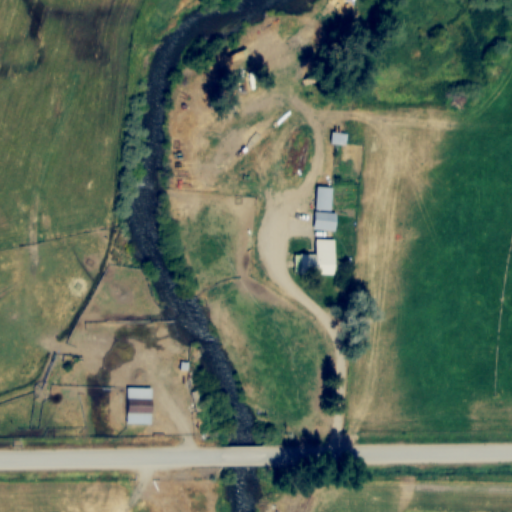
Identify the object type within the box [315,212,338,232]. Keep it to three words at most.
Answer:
shed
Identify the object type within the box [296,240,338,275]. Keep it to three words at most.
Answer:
house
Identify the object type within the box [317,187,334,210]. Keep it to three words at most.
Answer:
shed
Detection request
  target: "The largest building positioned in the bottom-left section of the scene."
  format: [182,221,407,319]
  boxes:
[126,387,153,425]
